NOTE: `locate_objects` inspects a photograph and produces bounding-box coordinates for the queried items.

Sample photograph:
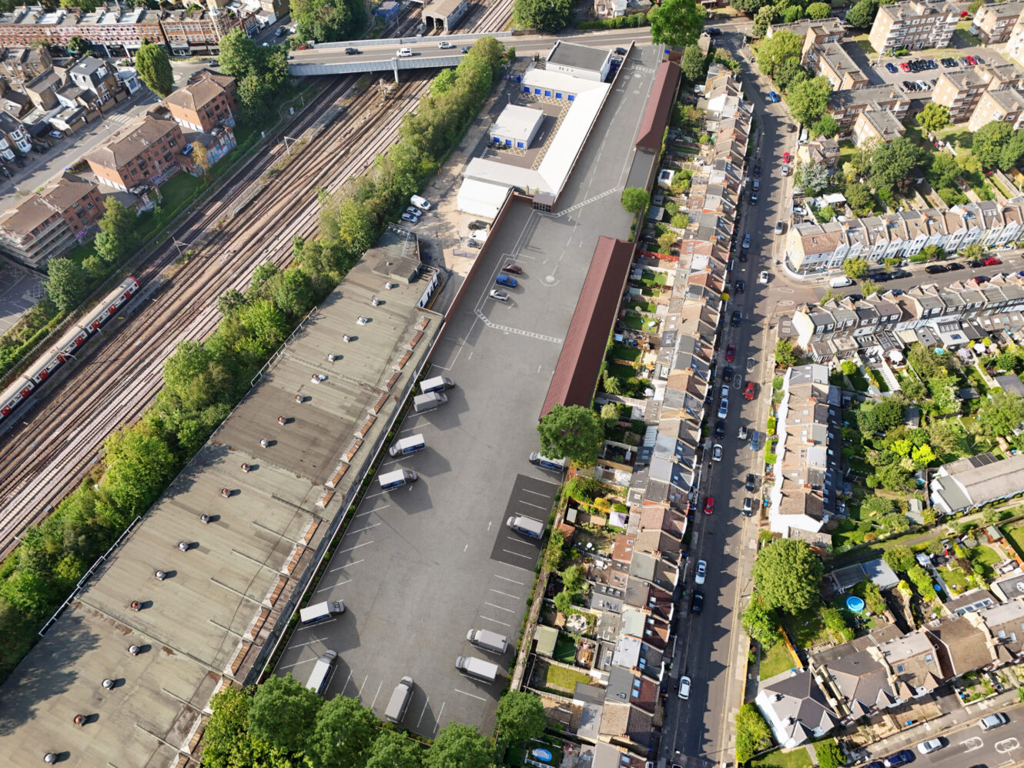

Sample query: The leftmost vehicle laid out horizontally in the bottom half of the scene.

[302,601,343,623]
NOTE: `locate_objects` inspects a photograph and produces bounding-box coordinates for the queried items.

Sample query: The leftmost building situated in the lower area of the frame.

[0,221,446,768]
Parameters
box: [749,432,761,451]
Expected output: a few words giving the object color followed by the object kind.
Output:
blue vehicle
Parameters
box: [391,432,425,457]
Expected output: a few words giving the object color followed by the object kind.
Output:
white vehicle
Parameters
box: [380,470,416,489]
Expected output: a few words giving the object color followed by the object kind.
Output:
white vehicle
